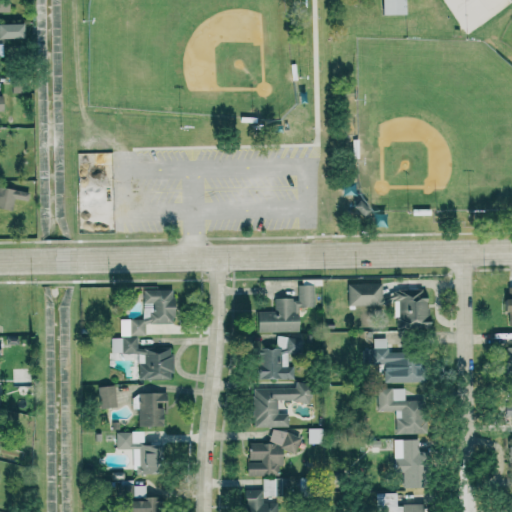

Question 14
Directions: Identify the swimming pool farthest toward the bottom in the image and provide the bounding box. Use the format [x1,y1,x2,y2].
[100,448,134,470]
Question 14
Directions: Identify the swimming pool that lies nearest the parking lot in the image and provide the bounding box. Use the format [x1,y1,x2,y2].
[126,296,144,318]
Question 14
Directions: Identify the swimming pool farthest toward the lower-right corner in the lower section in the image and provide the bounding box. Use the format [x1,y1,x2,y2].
[282,402,315,420]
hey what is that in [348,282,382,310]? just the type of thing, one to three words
house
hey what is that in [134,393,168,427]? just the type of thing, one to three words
house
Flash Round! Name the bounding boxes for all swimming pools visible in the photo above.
[126,296,144,318]
[100,448,134,470]
[110,354,140,380]
[110,406,135,431]
[282,402,315,420]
